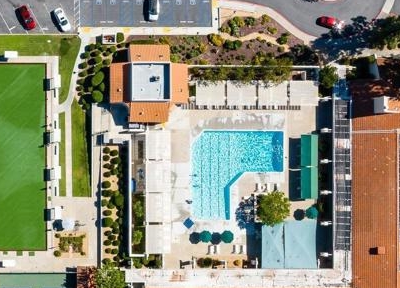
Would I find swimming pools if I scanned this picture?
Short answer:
Yes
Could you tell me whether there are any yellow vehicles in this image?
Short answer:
No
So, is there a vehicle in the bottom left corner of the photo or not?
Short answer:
No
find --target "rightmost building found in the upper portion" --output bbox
[109,44,189,129]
